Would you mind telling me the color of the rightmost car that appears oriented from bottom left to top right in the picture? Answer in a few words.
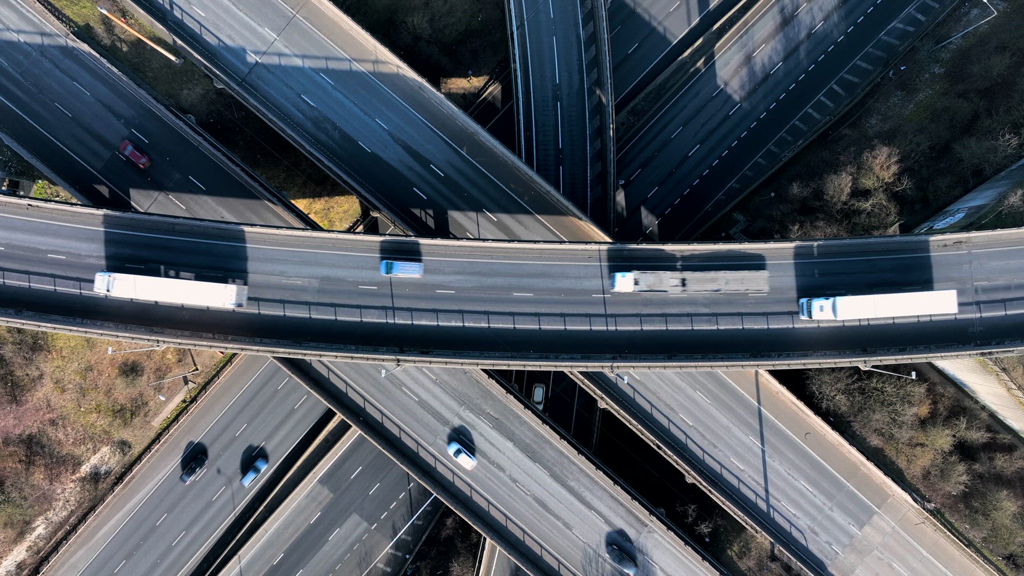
blue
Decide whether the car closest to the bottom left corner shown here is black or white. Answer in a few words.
black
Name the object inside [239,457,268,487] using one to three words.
car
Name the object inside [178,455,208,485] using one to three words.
car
